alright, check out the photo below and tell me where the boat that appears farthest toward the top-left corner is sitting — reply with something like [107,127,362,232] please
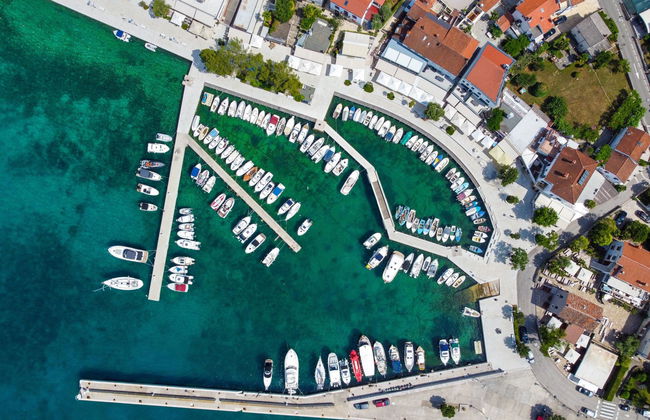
[112,29,133,43]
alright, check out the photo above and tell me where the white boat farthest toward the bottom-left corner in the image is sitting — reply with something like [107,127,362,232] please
[95,277,145,293]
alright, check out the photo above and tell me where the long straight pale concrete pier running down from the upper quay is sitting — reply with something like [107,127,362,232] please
[148,62,204,301]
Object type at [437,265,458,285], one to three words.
boat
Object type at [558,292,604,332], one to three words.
house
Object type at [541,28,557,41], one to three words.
vehicle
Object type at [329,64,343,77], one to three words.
umbrella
